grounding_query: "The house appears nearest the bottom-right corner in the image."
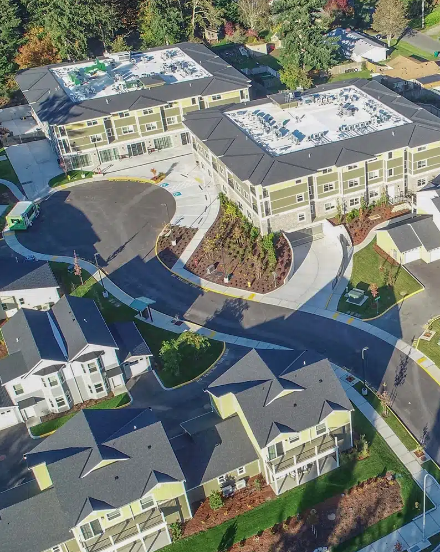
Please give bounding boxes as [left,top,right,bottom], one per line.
[167,346,355,505]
